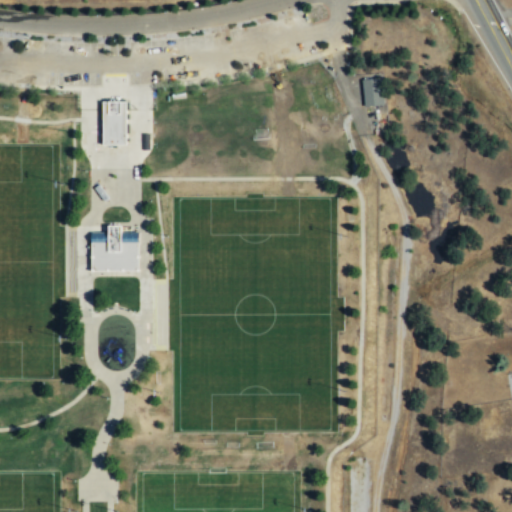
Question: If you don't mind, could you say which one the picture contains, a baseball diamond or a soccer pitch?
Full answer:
There is a soccer pitch in the scene.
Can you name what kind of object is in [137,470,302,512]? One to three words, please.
soccer field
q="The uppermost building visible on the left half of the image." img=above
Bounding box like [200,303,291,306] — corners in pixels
[102,99,128,146]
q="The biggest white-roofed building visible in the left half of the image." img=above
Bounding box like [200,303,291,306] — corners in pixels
[90,226,142,272]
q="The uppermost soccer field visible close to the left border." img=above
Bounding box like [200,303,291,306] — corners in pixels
[0,144,60,382]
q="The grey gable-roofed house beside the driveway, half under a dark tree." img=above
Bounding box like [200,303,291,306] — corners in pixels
[364,78,386,106]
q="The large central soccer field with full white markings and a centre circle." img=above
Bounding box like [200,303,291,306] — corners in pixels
[174,194,345,436]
